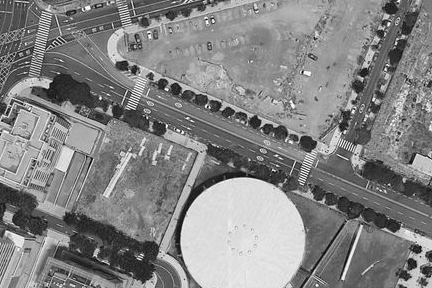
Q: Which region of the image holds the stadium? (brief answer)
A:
bottom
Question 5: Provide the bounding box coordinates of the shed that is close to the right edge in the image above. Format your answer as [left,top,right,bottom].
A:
[410,153,432,176]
